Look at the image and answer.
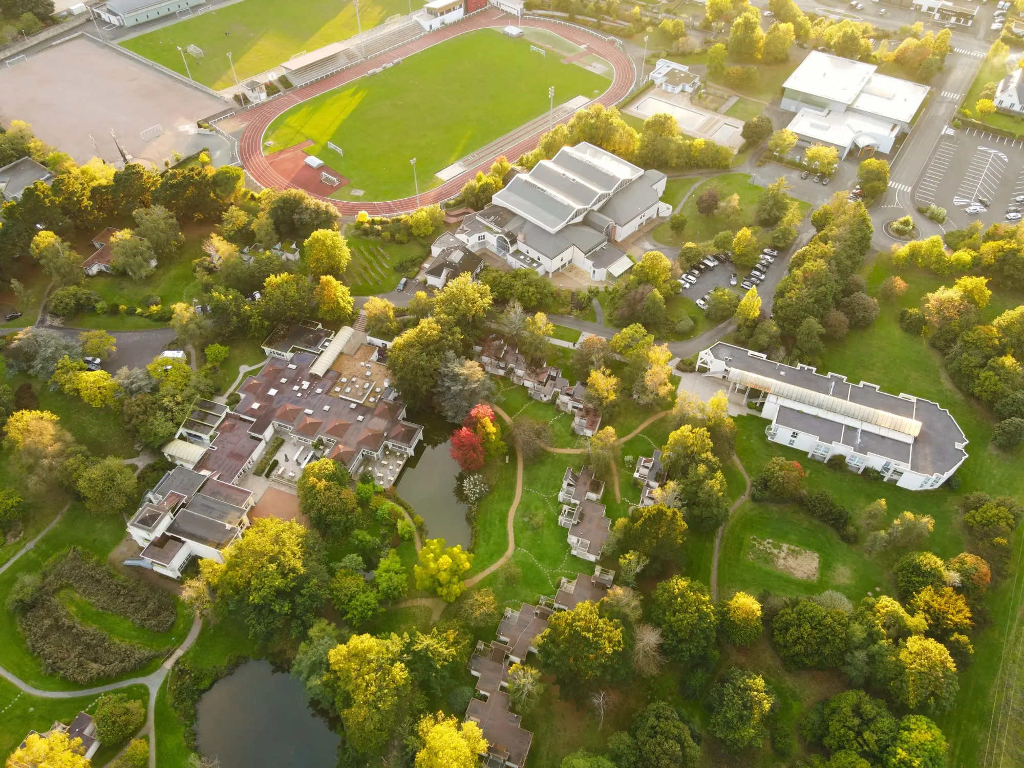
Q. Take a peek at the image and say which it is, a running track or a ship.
running track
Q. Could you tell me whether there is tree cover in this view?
Yes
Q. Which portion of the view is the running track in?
top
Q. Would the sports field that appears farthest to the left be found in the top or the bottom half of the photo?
top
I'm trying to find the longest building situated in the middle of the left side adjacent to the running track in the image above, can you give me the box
[121,317,425,576]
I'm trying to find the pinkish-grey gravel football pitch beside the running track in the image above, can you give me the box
[0,35,227,166]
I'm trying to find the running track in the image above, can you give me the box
[210,9,634,216]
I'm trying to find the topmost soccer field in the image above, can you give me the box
[117,0,435,91]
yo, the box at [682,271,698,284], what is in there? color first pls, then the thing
white vehicle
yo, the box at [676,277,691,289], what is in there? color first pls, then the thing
white vehicle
